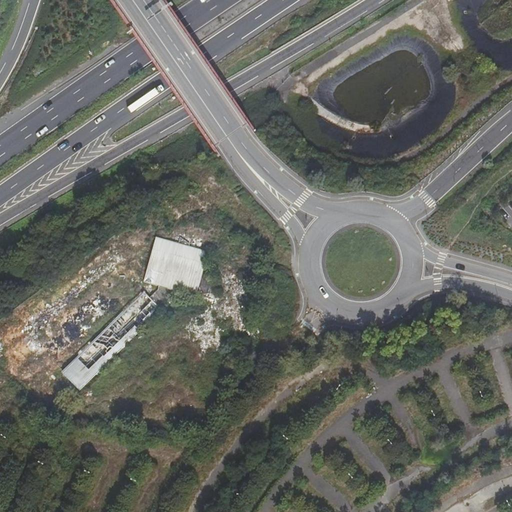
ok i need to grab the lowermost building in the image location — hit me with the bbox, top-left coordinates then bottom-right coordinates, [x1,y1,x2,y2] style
[61,292,156,390]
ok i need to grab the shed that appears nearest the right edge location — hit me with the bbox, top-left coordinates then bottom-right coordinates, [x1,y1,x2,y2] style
[143,236,202,290]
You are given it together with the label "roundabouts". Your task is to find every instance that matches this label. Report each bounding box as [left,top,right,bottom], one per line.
[300,202,422,322]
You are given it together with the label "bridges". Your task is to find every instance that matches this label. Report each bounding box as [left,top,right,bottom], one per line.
[109,0,256,154]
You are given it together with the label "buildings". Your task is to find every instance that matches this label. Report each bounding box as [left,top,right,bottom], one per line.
[61,292,156,390]
[143,236,202,290]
